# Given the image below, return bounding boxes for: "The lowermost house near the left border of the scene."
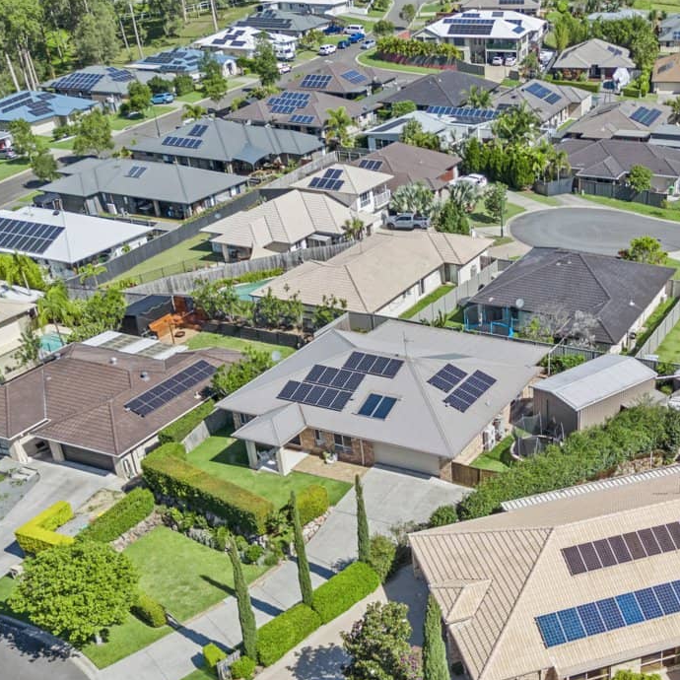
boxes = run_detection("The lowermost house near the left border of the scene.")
[0,342,252,486]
